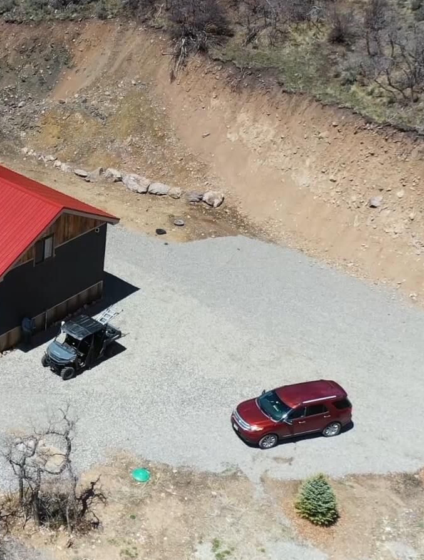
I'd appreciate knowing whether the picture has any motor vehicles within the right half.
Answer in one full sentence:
Yes, within the right half there is a motor vehicle.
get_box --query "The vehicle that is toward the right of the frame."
[226,377,356,451]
